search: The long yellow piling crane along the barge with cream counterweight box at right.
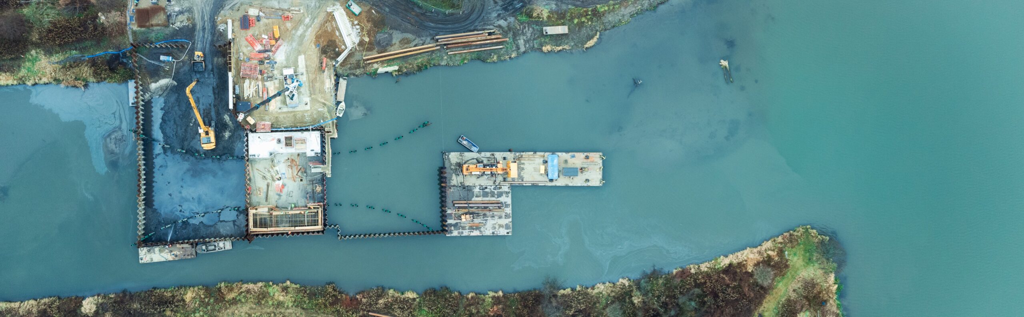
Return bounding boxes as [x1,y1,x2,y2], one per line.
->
[460,151,522,184]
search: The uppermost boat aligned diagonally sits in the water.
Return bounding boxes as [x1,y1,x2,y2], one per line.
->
[458,135,479,152]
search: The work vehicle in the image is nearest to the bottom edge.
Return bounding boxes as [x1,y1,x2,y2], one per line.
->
[186,75,215,150]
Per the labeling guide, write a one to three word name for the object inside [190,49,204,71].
vehicle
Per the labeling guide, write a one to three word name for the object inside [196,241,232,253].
boat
